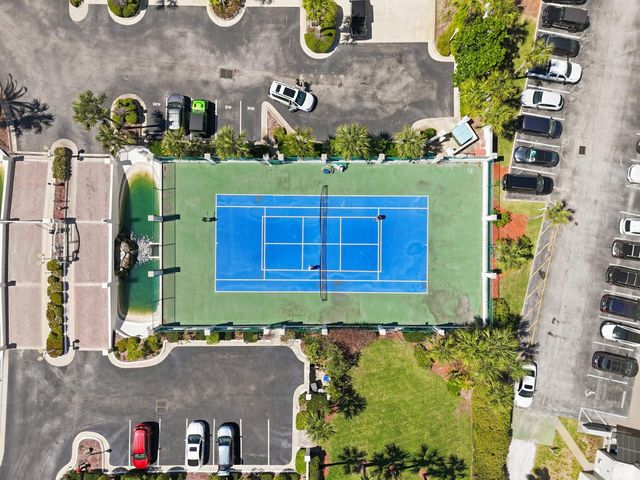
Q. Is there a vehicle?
Yes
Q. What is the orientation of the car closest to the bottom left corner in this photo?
from top to bottom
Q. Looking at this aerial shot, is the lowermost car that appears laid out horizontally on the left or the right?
right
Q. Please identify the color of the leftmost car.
red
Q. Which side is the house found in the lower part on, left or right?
right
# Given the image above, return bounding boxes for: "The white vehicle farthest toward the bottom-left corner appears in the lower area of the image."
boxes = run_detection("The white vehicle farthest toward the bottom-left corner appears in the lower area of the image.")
[184,422,206,469]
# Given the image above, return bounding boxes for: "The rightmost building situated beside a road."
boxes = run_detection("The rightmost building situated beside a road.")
[566,420,640,480]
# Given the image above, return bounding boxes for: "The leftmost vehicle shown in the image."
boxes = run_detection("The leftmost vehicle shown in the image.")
[129,423,153,468]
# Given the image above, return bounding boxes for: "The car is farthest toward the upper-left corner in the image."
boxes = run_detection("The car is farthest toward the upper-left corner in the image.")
[163,95,186,139]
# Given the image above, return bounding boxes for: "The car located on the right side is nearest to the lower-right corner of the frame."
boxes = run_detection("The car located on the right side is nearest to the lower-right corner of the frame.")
[591,352,638,378]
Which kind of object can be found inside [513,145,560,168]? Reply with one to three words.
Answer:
car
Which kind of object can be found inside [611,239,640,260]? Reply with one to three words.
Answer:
car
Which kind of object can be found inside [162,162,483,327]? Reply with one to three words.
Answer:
tennis court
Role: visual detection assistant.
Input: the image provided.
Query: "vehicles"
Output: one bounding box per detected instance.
[604,264,640,286]
[611,239,640,260]
[591,352,638,378]
[512,362,538,407]
[516,116,563,138]
[189,100,211,138]
[163,95,186,139]
[600,322,640,343]
[543,6,586,31]
[618,217,640,235]
[349,0,367,39]
[513,145,560,168]
[129,423,153,468]
[519,87,566,111]
[526,60,581,84]
[269,81,315,116]
[216,426,236,473]
[504,173,552,195]
[534,32,581,58]
[184,422,206,469]
[599,295,640,318]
